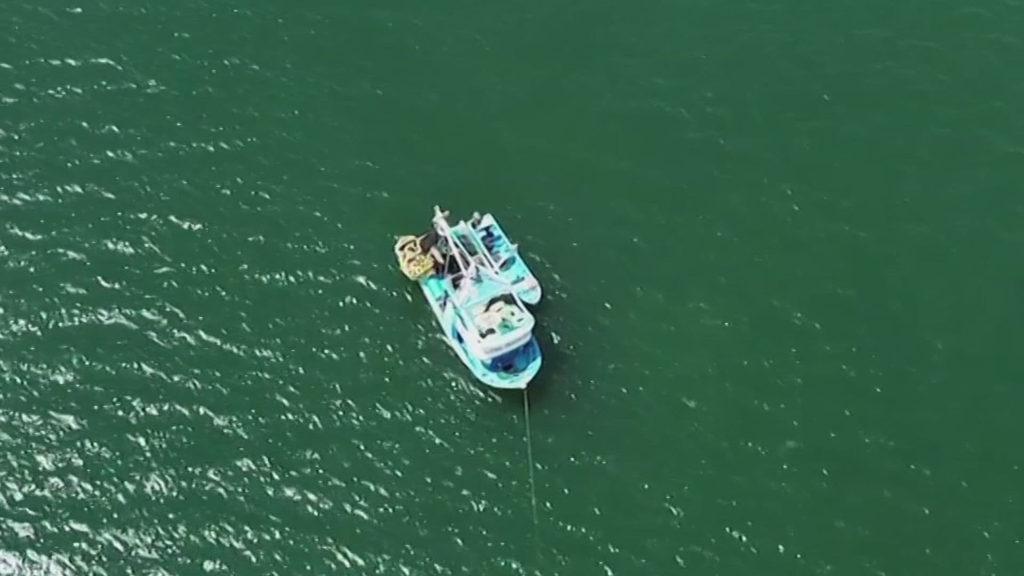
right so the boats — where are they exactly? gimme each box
[401,201,542,389]
[467,207,537,301]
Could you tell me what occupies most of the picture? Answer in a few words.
water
